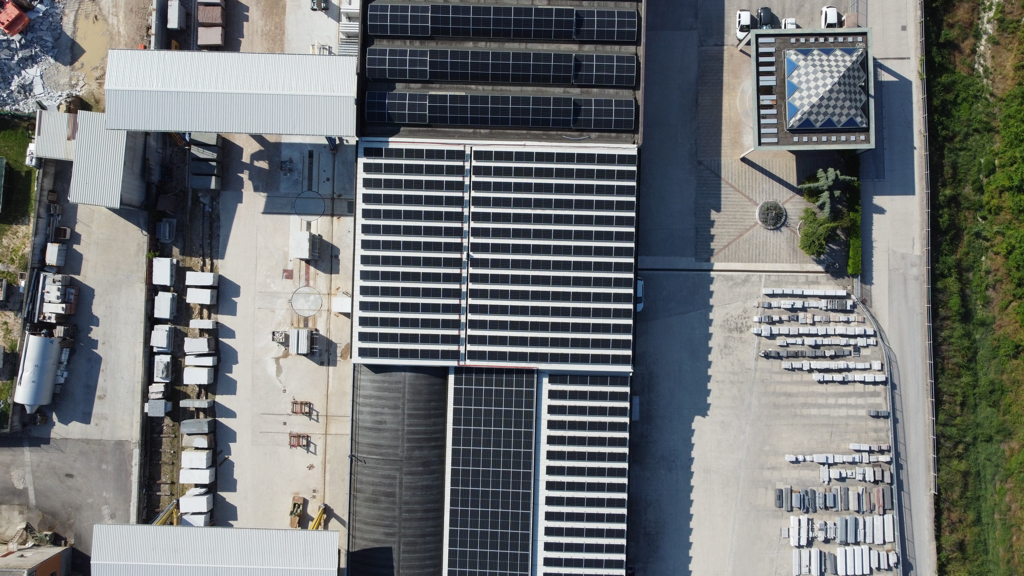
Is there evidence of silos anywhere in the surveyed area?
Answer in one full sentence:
Yes, the image includes a silo.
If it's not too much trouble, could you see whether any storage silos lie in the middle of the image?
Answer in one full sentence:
No, no storage silo appears in the middle of the image.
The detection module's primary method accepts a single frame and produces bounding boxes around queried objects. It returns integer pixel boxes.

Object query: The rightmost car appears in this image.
[822,3,841,28]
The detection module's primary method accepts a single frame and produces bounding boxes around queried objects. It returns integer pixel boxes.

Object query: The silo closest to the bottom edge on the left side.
[14,334,64,412]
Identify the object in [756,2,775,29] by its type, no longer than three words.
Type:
car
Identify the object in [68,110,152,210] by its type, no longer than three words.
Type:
shed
